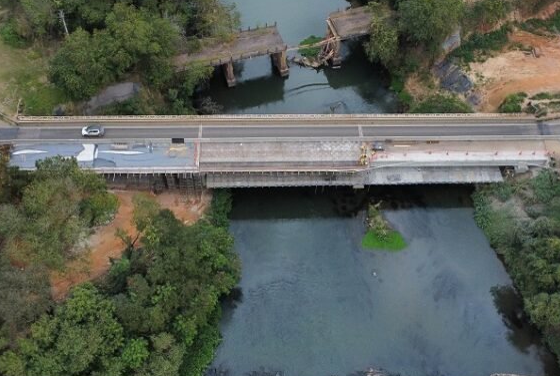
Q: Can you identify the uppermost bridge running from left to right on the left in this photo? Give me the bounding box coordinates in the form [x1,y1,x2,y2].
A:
[148,20,287,86]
